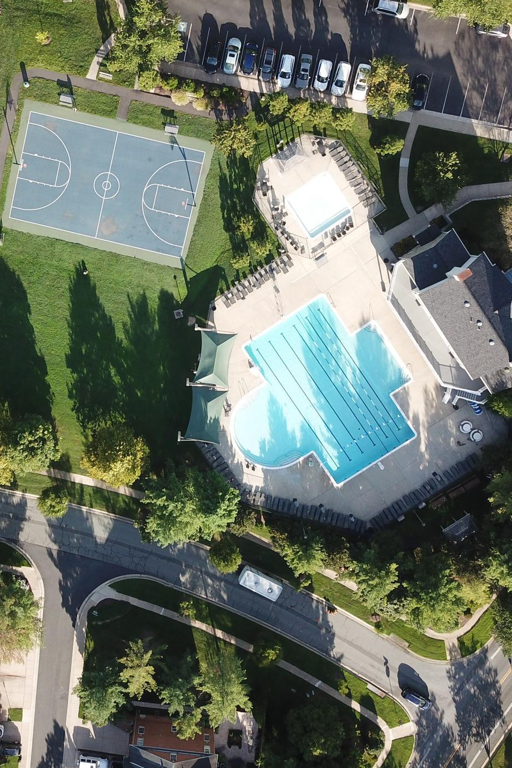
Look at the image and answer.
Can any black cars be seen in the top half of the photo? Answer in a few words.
Yes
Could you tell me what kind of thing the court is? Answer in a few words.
basketball court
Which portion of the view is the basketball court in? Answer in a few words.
top left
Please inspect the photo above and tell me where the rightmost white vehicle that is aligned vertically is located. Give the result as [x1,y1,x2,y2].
[351,63,371,101]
